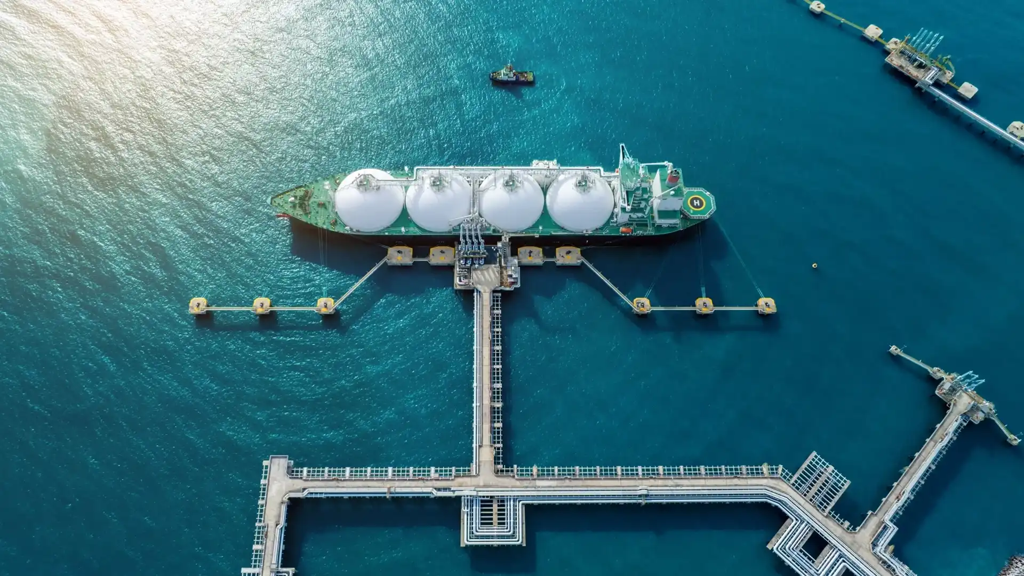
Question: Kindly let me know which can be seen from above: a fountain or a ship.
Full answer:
This aerial view contains a ship.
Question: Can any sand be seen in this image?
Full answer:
No, the picture contains no sand.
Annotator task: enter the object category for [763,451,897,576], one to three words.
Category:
pier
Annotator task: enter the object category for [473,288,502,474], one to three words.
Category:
pier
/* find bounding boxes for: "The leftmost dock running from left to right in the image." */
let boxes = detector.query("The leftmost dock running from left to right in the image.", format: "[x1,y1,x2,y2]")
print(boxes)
[288,467,787,547]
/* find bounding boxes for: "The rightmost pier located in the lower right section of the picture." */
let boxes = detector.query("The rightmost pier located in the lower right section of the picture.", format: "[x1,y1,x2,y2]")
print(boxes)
[871,389,975,529]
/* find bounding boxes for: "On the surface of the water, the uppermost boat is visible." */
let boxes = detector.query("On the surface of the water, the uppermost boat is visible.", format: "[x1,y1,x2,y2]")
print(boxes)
[489,66,536,88]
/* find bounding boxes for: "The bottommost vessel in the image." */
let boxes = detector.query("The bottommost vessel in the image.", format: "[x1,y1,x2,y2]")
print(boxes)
[269,145,715,247]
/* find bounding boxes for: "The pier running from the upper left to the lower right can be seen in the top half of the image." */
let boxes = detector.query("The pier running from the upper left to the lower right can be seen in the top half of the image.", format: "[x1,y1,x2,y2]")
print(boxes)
[921,84,1024,156]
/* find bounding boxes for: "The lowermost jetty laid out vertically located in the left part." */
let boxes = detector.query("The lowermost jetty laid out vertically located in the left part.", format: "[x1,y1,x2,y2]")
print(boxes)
[241,455,303,576]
